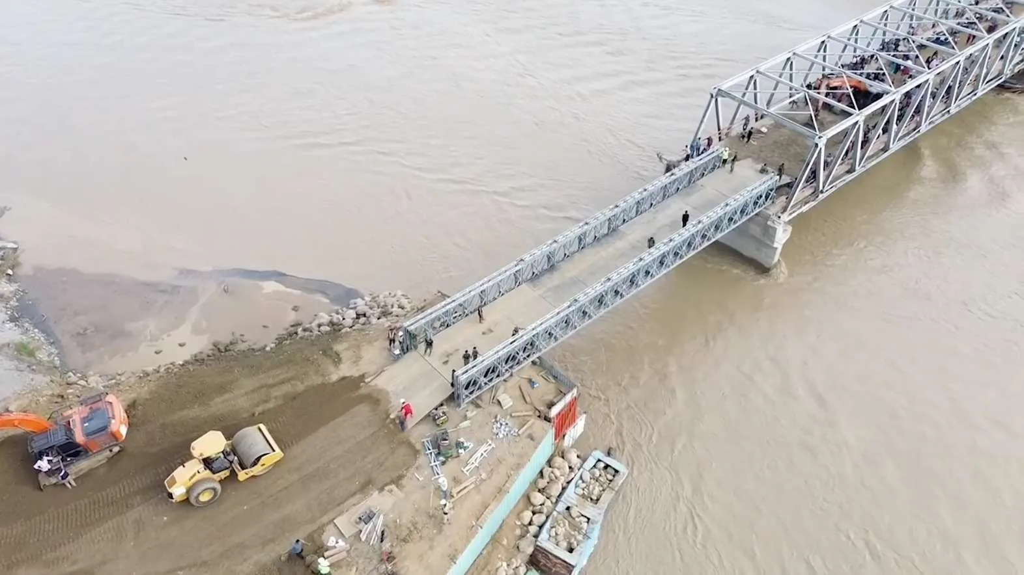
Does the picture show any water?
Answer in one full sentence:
Yes, there is water in the image.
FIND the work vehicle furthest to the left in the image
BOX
[0,389,131,488]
